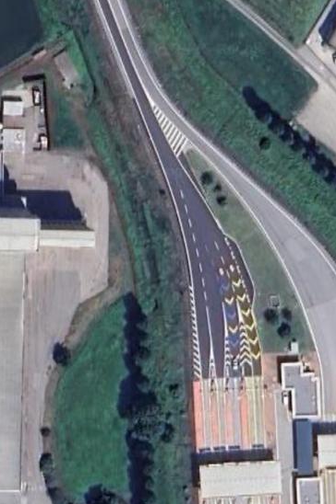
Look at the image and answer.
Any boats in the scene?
No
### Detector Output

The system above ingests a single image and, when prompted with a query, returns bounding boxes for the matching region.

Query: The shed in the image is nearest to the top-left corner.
[3,100,24,115]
